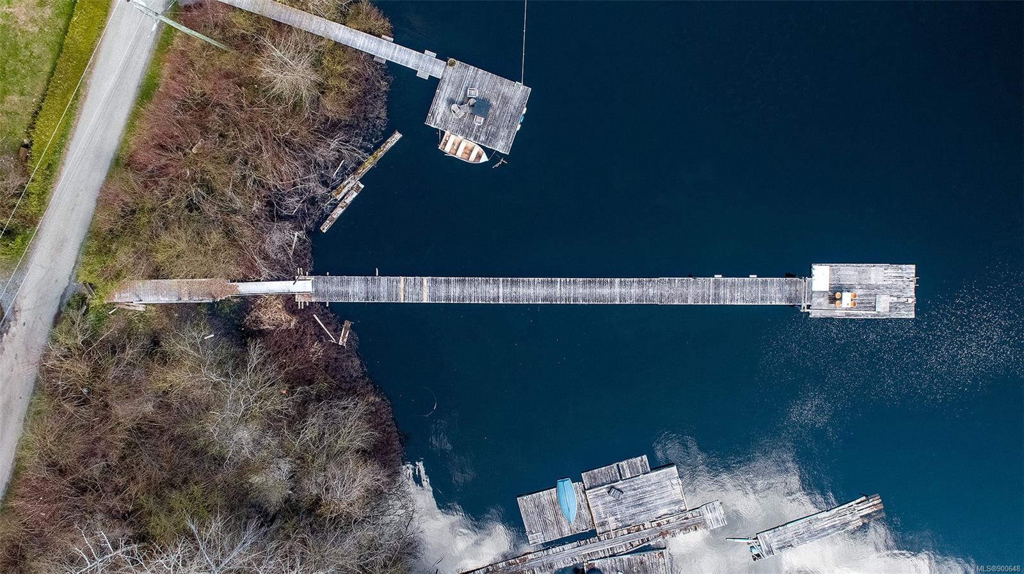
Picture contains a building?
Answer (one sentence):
No, there's no building here.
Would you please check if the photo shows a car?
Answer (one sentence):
No, the picture doesn't show any car.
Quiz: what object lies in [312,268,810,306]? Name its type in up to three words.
pier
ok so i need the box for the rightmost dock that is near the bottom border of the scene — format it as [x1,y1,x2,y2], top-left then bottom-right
[747,492,882,559]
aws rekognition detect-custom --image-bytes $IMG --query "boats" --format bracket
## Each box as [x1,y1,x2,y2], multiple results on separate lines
[556,475,578,525]
[439,132,489,162]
